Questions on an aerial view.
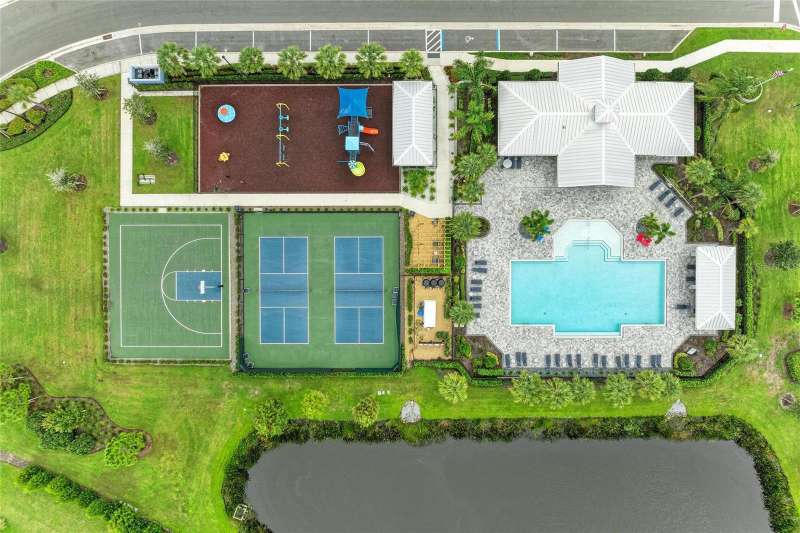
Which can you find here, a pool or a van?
pool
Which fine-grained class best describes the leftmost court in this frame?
basketball court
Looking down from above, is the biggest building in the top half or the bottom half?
top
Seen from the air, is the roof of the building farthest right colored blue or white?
white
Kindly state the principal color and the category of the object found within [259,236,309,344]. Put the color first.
blue sports court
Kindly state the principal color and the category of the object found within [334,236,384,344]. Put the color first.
blue sports court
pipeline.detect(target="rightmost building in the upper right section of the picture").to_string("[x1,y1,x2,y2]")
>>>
[497,53,695,188]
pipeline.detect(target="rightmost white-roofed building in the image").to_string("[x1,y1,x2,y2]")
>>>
[685,245,736,332]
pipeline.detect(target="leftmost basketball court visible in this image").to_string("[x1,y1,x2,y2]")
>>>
[108,212,229,360]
